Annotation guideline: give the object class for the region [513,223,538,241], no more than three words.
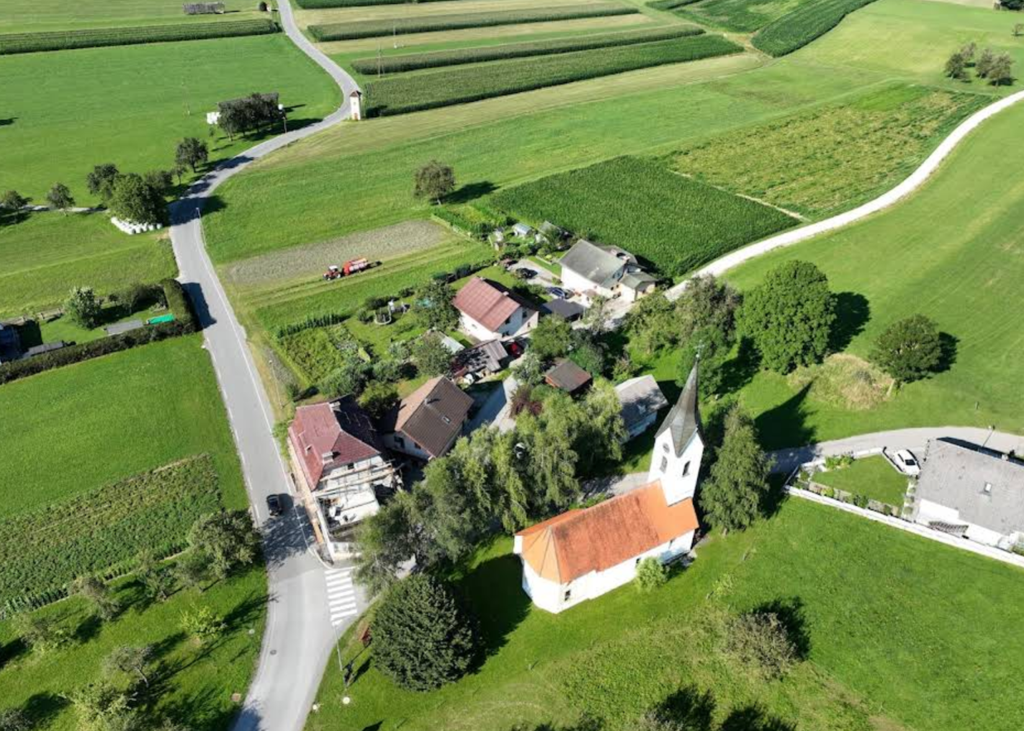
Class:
greenhouse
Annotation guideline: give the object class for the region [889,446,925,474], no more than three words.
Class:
car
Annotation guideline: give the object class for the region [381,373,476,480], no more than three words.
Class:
house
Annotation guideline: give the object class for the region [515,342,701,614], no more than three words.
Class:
church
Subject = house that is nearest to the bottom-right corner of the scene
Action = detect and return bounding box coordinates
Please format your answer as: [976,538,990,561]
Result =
[917,423,1024,555]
